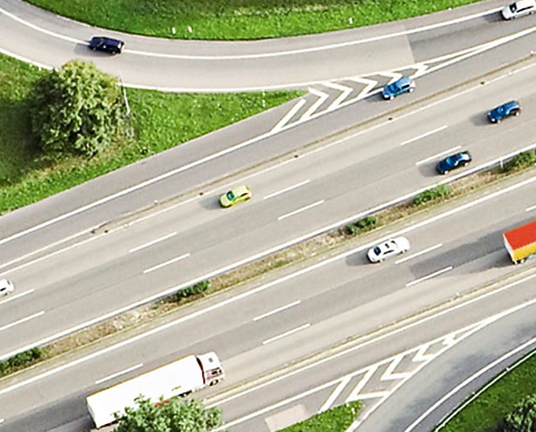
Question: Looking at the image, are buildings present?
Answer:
No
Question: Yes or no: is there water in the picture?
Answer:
No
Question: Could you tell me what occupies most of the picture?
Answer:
paved ground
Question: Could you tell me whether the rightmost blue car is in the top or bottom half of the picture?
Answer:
top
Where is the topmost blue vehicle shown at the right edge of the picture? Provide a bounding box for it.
[486,99,521,124]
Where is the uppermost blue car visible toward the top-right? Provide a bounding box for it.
[382,75,415,99]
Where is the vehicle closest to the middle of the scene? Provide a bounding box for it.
[218,184,253,208]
